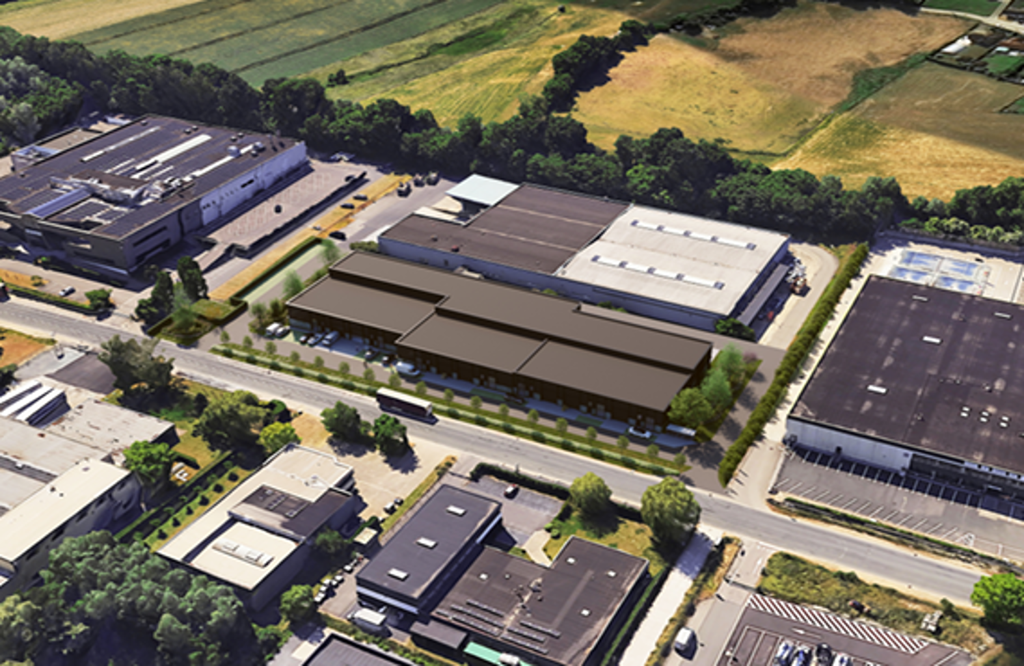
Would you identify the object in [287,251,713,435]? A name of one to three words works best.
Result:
building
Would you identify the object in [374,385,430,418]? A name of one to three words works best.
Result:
truck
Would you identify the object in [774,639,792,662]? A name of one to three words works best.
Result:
car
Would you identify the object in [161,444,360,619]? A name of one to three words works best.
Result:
building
